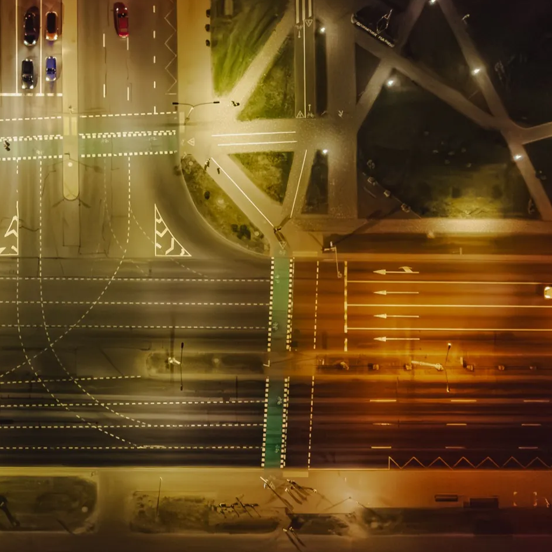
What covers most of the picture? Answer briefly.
paved ground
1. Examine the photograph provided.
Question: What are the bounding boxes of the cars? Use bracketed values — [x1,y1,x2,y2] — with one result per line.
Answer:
[21,58,35,89]
[44,55,58,81]
[114,2,129,36]
[23,7,38,42]
[542,286,552,299]
[44,9,58,40]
